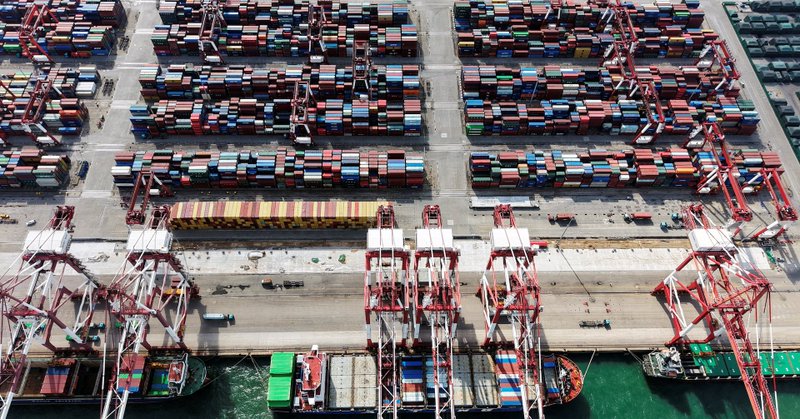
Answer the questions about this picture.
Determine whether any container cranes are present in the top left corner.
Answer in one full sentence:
Yes, there is a container crane in the top left corner.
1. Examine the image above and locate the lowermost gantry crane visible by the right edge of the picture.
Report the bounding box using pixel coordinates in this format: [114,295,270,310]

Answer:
[650,206,791,419]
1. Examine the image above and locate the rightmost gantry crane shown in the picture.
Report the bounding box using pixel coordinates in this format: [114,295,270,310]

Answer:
[734,167,800,243]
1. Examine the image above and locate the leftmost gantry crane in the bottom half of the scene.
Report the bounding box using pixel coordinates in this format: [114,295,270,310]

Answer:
[0,207,103,391]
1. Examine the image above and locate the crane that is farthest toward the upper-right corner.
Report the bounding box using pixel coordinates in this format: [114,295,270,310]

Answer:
[689,40,745,105]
